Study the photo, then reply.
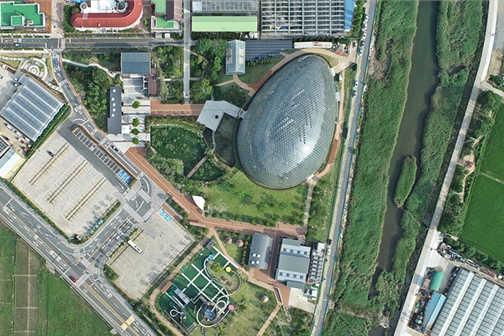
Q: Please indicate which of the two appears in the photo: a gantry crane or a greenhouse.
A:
greenhouse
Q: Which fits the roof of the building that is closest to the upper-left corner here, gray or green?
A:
green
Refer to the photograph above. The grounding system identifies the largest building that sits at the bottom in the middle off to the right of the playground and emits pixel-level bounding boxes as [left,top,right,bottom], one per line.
[275,238,310,288]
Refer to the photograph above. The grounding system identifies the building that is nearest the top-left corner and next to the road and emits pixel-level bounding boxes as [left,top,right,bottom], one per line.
[0,2,48,33]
